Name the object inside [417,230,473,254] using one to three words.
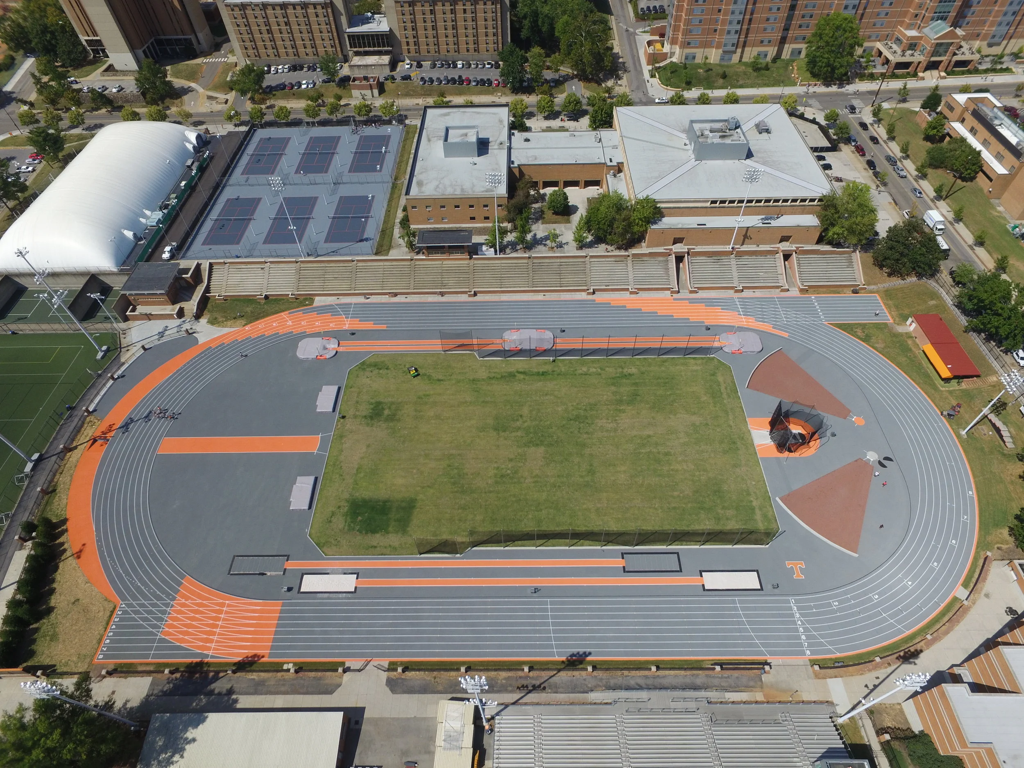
building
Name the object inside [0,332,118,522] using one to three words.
sports field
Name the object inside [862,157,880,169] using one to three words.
vehicle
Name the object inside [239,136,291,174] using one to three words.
tennis court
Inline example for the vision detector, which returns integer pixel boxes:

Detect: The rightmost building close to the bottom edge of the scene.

[903,619,1024,768]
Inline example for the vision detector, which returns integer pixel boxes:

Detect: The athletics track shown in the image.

[67,293,981,664]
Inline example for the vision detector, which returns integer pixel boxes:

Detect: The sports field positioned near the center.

[307,352,780,557]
